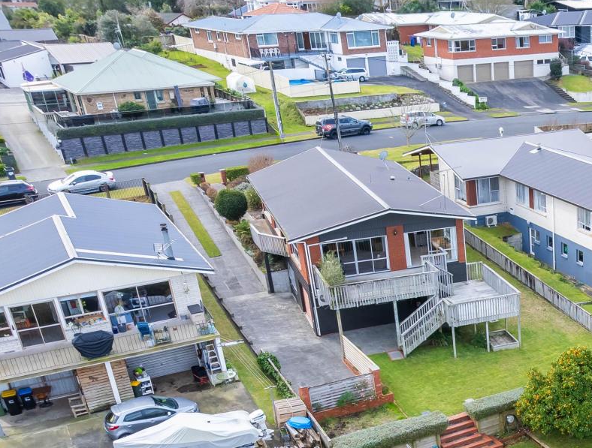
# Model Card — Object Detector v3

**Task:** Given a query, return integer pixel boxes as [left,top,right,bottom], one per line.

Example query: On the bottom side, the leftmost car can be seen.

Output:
[86,394,201,447]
